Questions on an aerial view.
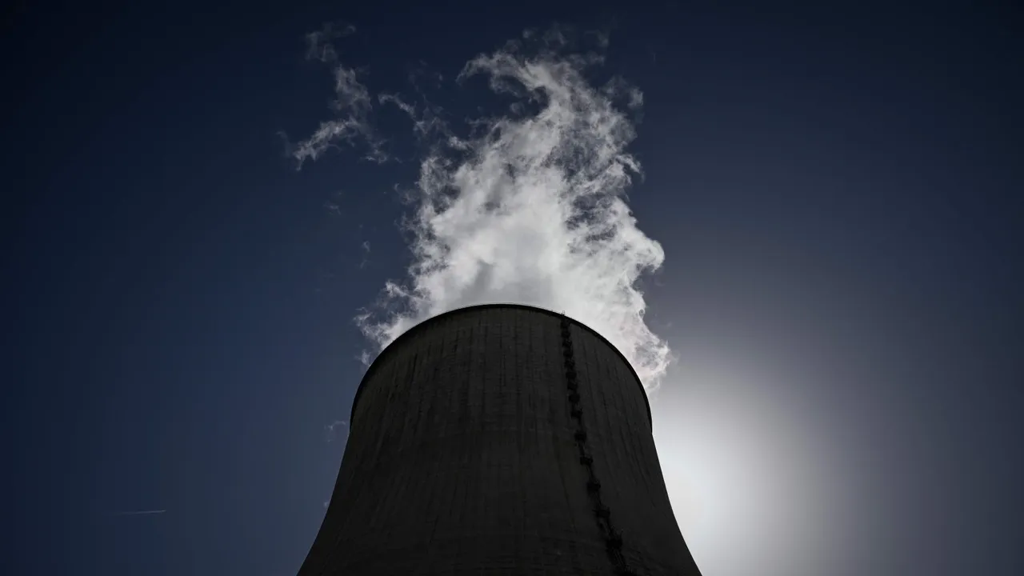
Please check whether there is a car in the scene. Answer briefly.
No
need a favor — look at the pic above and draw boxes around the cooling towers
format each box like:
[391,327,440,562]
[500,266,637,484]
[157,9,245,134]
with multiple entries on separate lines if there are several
[298,302,701,576]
